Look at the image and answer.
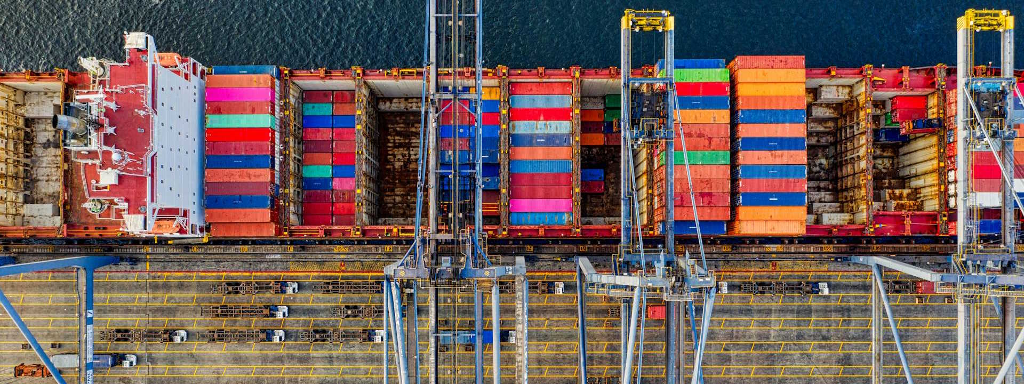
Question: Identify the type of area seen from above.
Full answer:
The area seen from above is a port.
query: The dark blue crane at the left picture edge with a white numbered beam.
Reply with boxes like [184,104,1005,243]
[0,256,156,384]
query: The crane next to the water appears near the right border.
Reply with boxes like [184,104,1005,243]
[815,6,1024,384]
